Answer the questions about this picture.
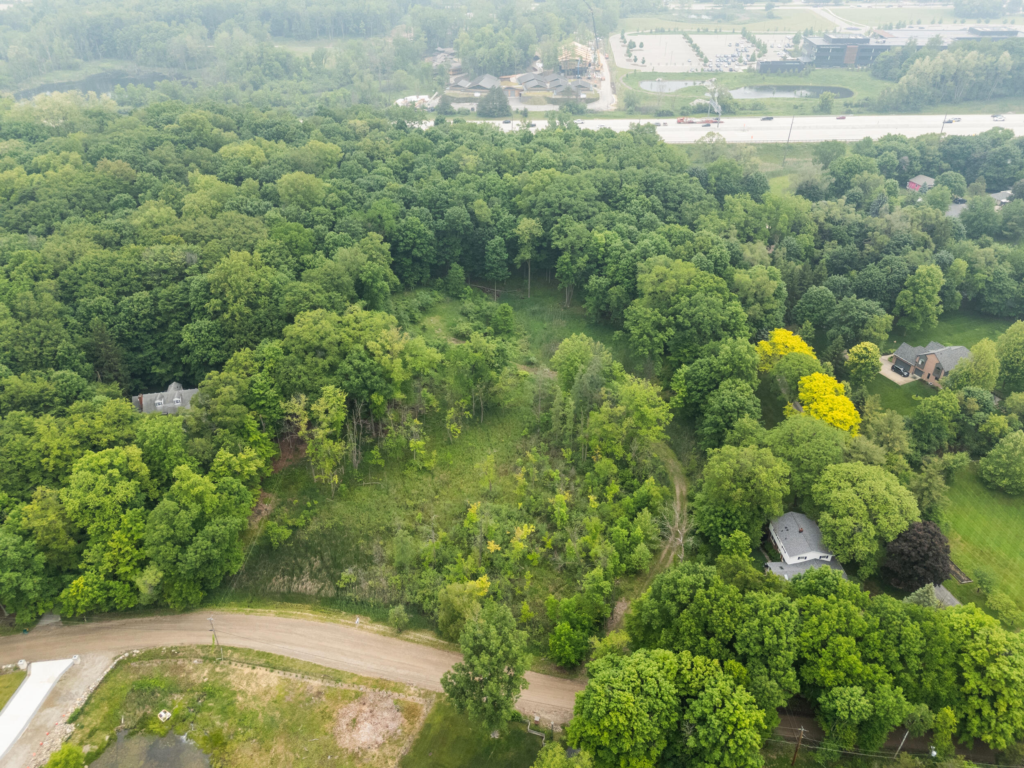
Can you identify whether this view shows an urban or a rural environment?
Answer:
rural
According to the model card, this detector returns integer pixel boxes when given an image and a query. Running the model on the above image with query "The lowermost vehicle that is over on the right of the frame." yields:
[891,365,911,378]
